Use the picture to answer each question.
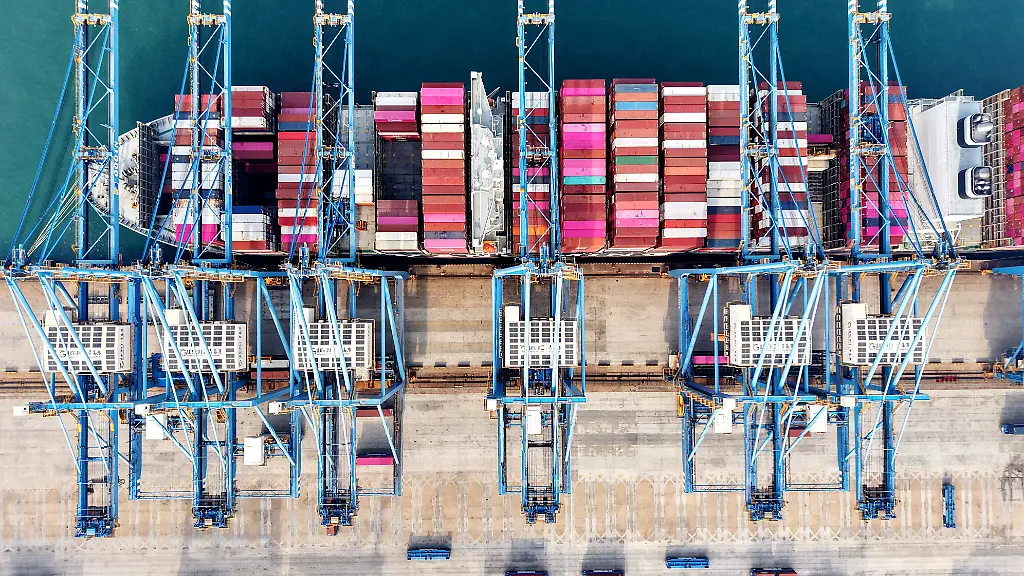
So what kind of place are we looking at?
port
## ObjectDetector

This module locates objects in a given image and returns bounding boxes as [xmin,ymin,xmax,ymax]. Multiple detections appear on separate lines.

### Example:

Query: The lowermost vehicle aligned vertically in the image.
[942,482,955,527]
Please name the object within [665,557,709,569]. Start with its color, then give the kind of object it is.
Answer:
blue vehicle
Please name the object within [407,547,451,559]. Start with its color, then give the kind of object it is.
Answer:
blue vehicle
